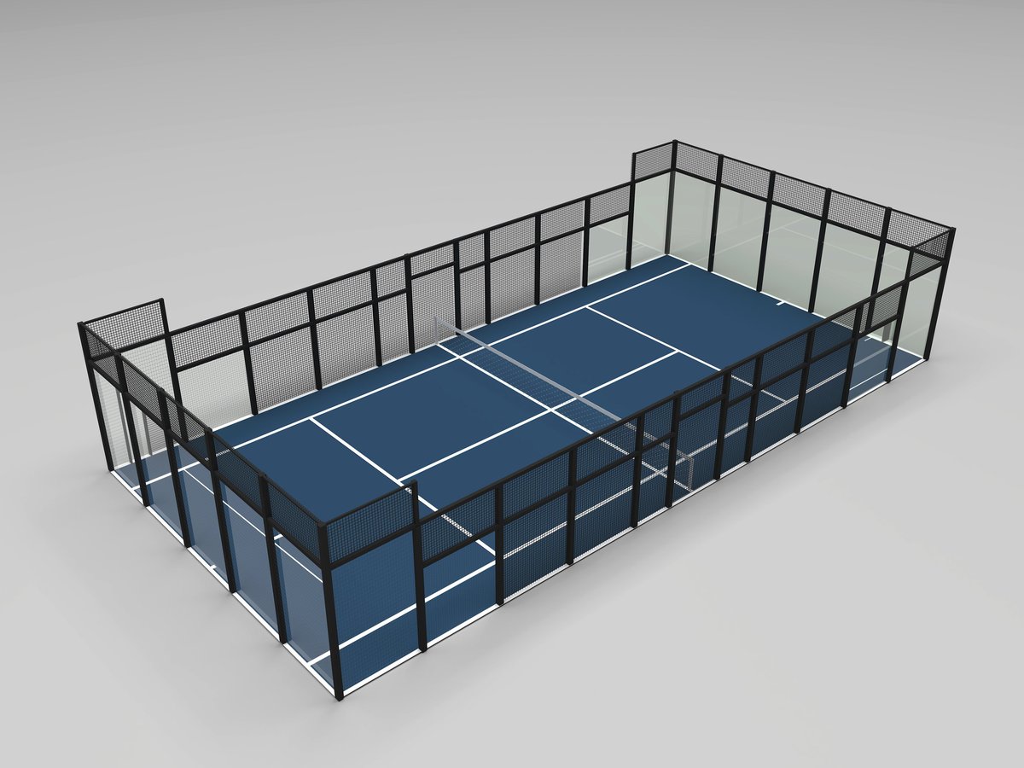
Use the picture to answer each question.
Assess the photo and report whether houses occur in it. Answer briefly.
No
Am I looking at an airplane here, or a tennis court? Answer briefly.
tennis court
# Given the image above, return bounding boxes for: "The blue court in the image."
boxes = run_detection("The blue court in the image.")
[111,253,926,698]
